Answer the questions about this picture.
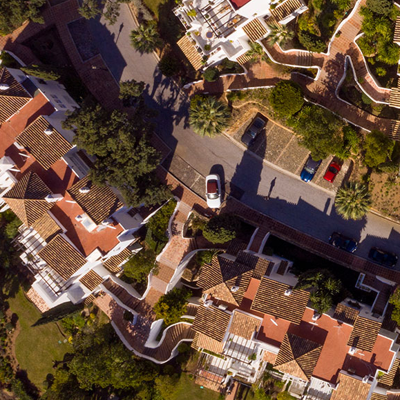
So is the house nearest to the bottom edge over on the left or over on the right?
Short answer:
right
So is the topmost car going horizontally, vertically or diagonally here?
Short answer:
diagonally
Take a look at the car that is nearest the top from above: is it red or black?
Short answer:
black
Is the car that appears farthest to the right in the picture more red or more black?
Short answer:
black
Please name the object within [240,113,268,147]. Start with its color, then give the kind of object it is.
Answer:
black car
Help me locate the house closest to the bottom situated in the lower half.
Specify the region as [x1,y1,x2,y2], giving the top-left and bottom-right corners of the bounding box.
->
[190,239,400,400]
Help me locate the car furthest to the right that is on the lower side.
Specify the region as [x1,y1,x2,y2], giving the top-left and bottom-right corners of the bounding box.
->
[365,244,400,267]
